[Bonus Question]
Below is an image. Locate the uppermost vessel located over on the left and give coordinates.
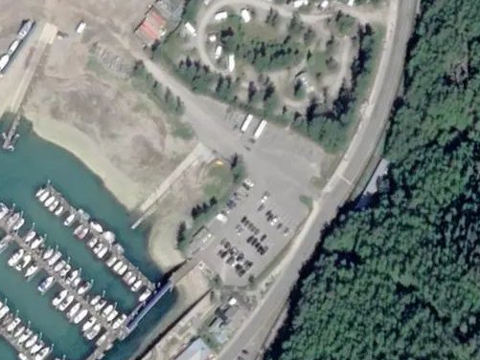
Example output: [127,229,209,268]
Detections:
[13,20,31,39]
